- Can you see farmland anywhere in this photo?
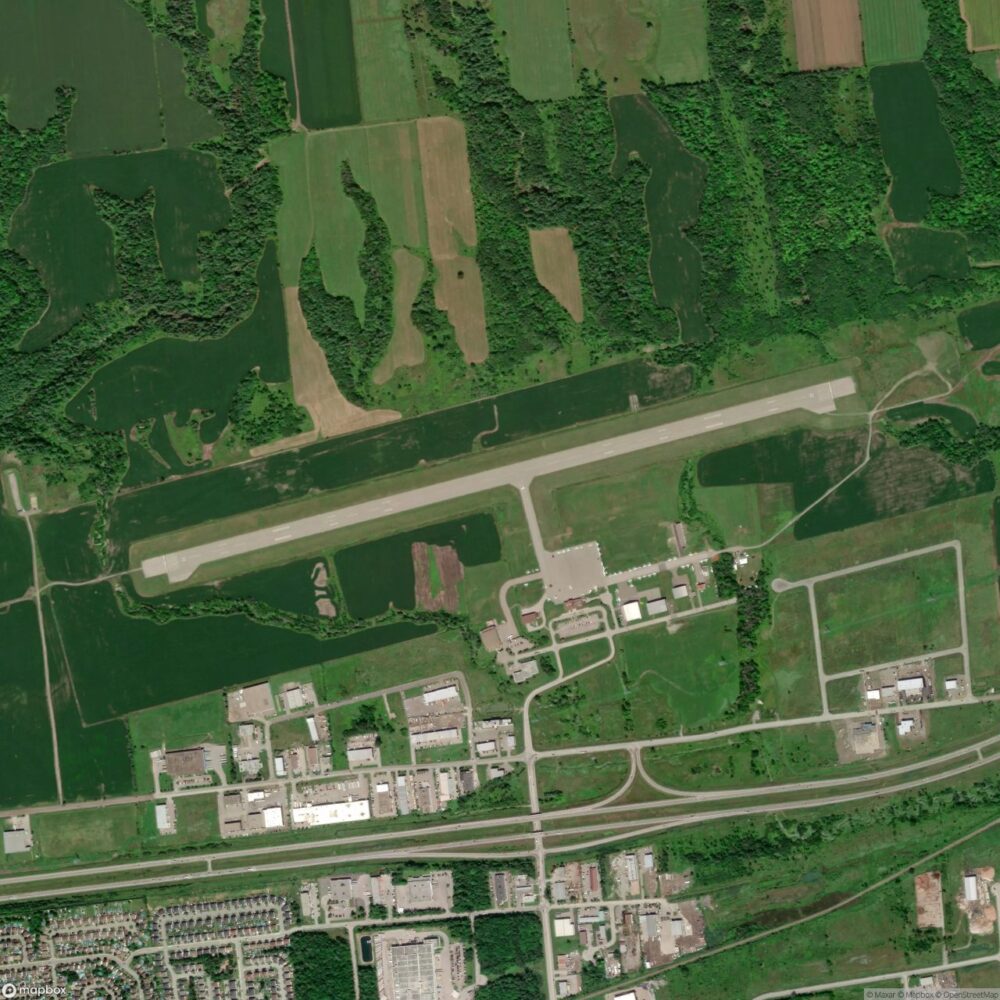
Yes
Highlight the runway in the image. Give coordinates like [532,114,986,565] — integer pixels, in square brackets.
[142,376,856,582]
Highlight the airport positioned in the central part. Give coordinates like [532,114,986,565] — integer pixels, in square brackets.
[142,376,856,633]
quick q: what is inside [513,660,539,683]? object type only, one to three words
building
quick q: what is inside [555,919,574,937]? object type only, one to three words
building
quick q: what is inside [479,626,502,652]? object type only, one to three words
hangar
